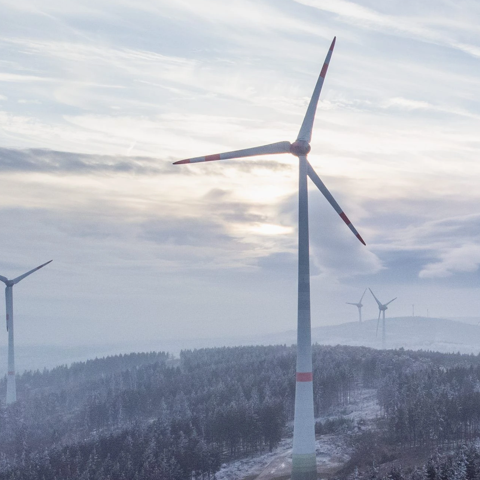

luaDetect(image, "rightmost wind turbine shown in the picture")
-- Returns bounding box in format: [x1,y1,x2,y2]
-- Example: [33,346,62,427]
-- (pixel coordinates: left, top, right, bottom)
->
[371,291,396,357]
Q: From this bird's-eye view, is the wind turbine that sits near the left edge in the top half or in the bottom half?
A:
bottom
